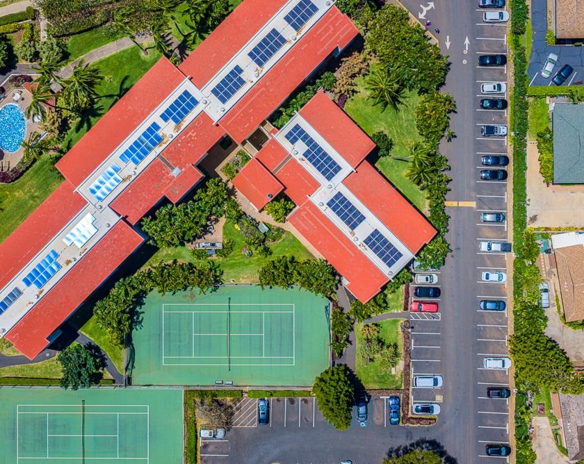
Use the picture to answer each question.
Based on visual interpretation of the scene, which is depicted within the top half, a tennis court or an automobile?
automobile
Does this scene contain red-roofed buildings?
Yes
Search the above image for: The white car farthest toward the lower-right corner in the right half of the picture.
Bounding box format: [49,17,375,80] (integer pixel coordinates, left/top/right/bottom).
[482,356,511,370]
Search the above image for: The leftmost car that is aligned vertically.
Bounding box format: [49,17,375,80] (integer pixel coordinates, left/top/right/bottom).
[257,398,270,425]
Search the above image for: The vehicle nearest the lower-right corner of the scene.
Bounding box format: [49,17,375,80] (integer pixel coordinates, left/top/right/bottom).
[485,444,512,457]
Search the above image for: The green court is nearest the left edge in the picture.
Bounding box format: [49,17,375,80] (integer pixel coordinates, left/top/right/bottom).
[0,388,182,464]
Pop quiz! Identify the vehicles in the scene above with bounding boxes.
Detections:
[482,9,509,22]
[485,386,511,400]
[480,271,507,283]
[413,272,439,286]
[479,211,506,224]
[478,0,505,9]
[411,301,437,314]
[480,168,507,182]
[485,444,512,457]
[481,154,508,167]
[479,300,506,312]
[257,398,270,425]
[479,54,506,66]
[413,259,439,271]
[415,374,440,388]
[552,62,572,87]
[482,356,511,370]
[414,287,440,299]
[479,241,511,253]
[480,98,507,110]
[479,82,507,94]
[415,403,438,416]
[539,52,559,79]
[202,427,224,439]
[479,124,510,137]
[538,281,552,309]
[388,397,401,422]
